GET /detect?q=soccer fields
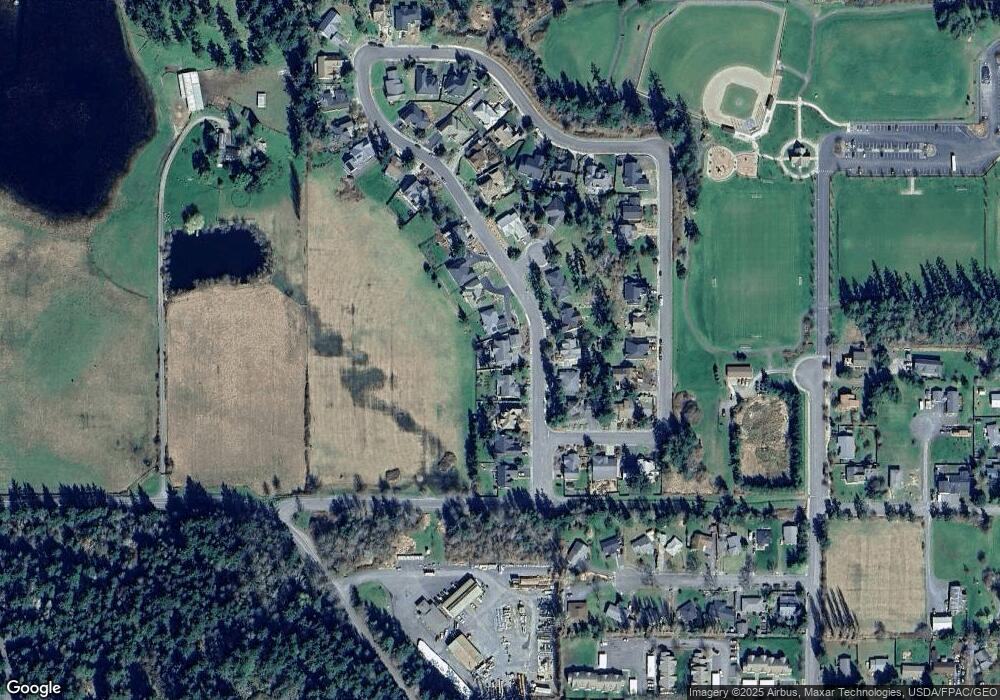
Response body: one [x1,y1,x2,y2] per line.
[687,181,811,346]
[839,178,984,290]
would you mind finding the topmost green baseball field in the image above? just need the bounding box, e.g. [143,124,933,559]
[636,0,785,134]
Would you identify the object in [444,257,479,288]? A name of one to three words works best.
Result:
house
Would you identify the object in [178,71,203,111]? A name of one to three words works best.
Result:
barn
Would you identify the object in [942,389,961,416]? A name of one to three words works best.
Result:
house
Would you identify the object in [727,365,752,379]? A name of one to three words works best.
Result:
building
